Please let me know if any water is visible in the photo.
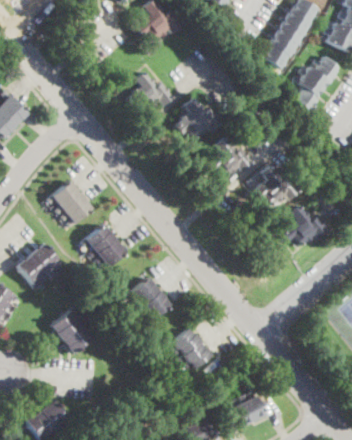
No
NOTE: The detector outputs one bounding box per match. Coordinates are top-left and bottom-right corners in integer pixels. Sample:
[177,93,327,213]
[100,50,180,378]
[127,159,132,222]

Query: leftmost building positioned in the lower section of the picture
[0,284,21,328]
